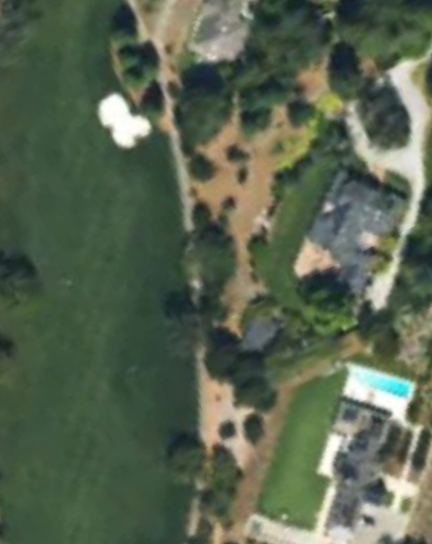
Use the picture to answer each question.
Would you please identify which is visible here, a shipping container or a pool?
pool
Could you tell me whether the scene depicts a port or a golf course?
golf course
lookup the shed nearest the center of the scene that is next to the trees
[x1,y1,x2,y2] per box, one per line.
[242,318,279,352]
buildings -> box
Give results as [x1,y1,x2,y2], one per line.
[242,318,279,352]
[197,0,247,62]
[326,392,396,541]
[301,170,409,299]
